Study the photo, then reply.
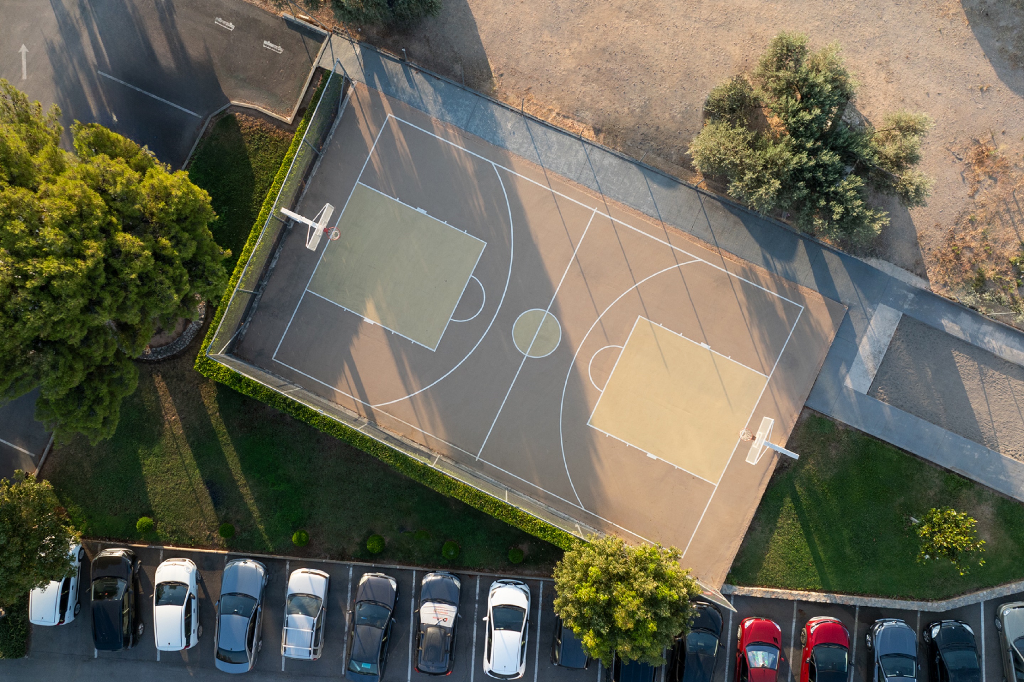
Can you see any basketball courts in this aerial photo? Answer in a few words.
Yes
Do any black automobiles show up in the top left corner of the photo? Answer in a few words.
No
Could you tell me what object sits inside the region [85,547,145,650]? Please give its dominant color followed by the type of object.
black car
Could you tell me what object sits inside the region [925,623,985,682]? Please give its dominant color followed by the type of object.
black car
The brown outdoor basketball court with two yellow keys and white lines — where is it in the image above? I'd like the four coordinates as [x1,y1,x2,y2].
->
[237,83,847,589]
